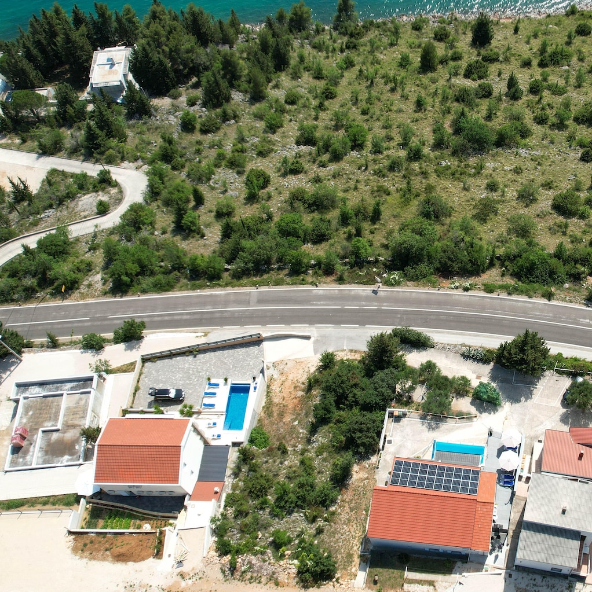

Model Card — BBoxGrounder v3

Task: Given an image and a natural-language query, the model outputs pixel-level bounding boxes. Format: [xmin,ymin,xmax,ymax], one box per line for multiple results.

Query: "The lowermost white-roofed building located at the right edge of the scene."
[517,473,592,578]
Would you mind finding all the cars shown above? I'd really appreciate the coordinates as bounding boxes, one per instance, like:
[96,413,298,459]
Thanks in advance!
[145,386,185,403]
[561,375,577,405]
